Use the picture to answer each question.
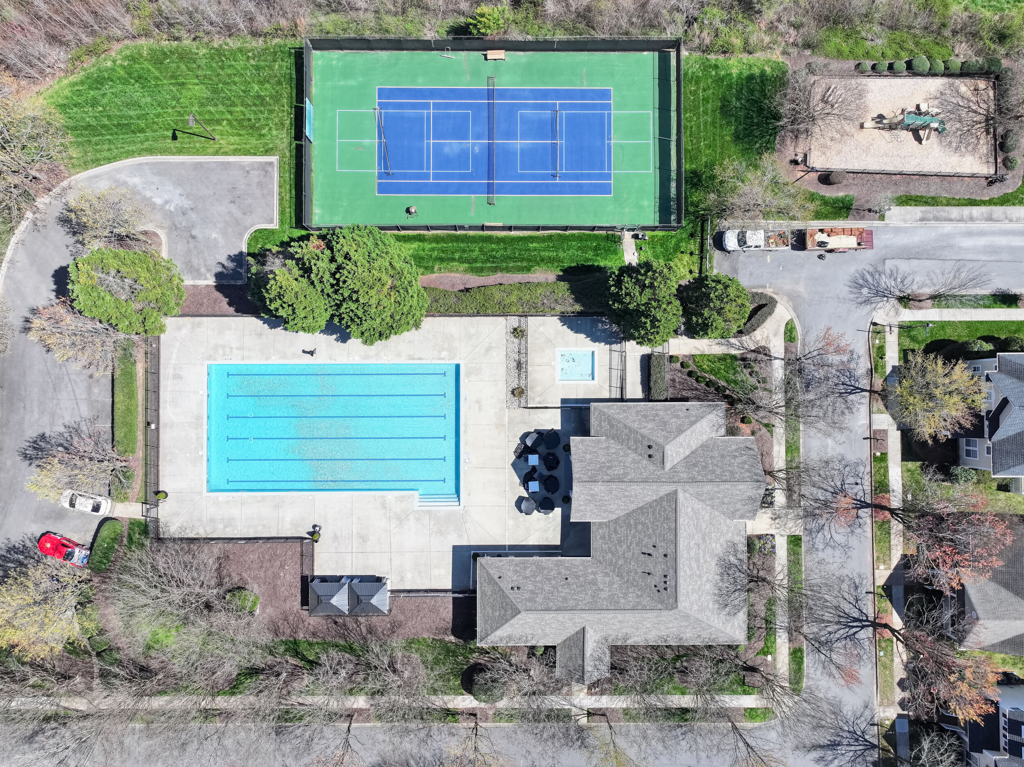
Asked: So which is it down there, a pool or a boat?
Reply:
pool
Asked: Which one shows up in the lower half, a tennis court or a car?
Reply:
car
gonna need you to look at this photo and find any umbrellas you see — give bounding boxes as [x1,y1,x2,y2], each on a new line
[536,496,553,513]
[514,442,527,458]
[540,474,558,492]
[540,452,559,471]
[540,430,559,449]
[525,466,537,483]
[517,495,535,514]
[522,431,540,450]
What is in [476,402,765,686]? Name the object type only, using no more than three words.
building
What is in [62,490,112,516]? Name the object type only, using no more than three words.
car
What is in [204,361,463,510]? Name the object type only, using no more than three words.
swimming pool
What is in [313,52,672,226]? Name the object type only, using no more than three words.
tennis court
